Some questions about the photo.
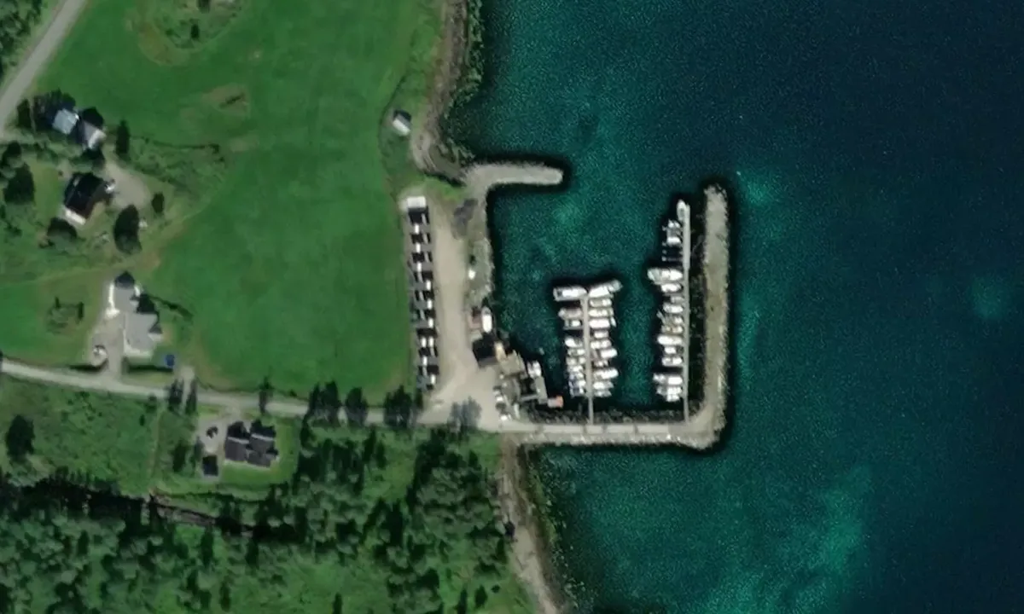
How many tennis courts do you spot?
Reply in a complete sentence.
No tennis courts are visible.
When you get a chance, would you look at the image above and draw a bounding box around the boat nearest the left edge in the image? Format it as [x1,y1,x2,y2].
[481,305,493,333]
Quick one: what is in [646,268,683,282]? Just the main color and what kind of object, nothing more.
white boat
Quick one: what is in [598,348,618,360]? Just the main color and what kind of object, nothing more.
white boat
